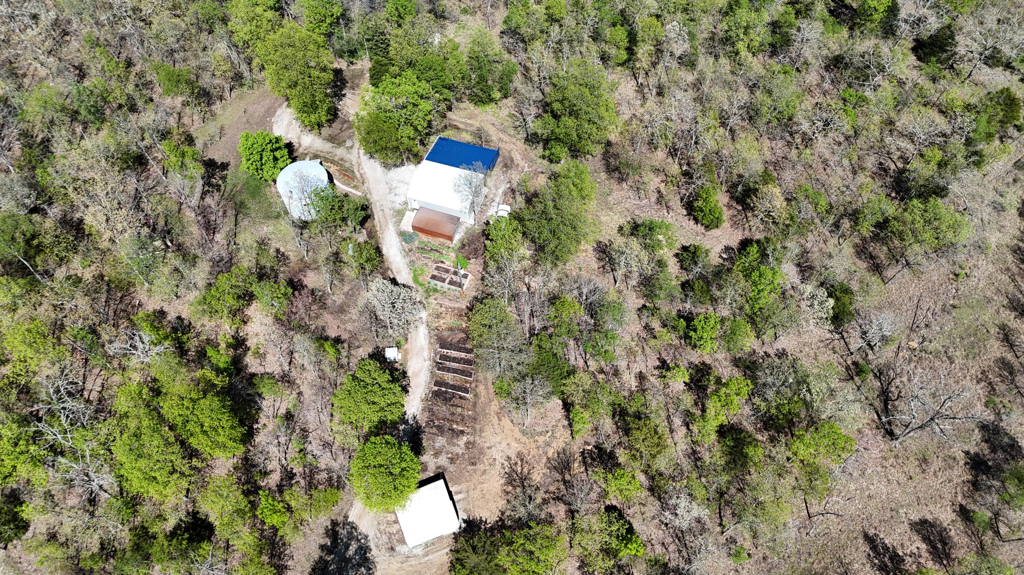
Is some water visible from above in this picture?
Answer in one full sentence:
No, no water is visible.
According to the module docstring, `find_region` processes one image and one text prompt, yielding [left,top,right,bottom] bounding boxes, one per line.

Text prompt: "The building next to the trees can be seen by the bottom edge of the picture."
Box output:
[397,479,460,549]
